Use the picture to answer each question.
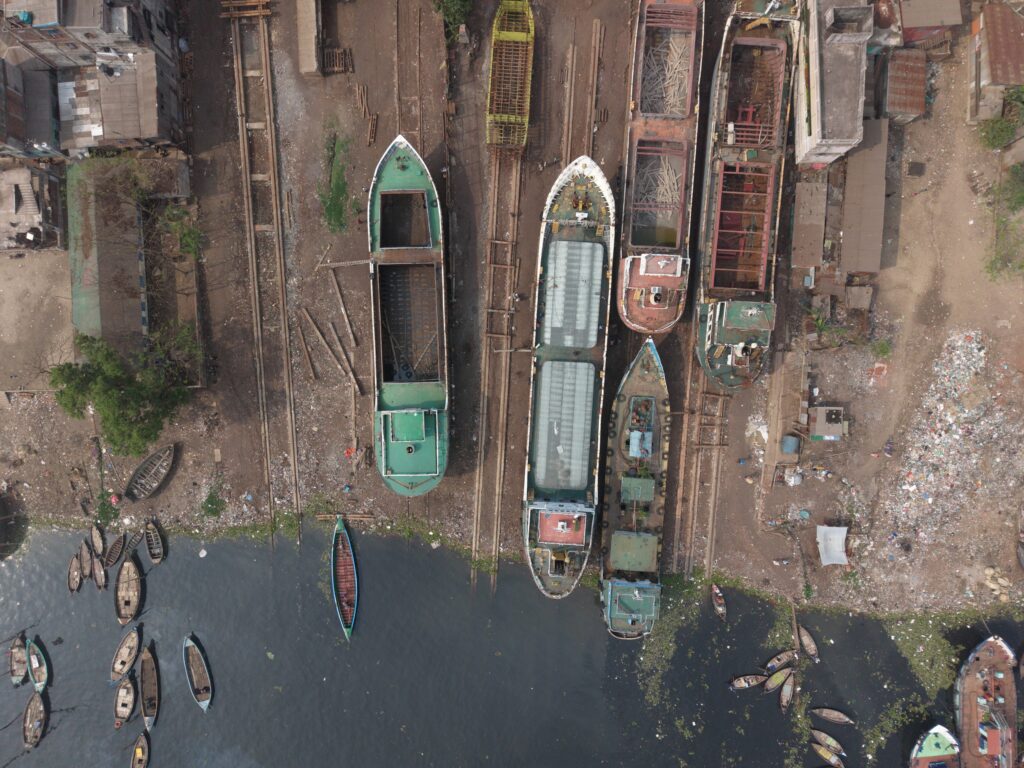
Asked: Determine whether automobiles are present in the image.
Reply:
No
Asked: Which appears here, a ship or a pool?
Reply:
ship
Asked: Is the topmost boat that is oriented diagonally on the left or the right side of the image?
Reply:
left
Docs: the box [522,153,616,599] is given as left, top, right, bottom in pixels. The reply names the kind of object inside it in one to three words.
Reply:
ship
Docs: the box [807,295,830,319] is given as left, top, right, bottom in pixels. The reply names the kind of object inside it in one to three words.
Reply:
shed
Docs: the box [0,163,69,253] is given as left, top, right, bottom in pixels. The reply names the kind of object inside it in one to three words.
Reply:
building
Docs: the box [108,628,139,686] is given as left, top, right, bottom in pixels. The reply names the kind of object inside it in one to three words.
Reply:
boat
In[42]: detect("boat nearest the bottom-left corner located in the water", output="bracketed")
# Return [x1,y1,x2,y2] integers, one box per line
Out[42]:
[21,693,46,752]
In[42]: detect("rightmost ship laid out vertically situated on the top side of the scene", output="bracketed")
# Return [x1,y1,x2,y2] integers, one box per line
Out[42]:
[692,0,799,388]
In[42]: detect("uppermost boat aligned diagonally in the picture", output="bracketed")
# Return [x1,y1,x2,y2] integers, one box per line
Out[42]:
[125,445,175,503]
